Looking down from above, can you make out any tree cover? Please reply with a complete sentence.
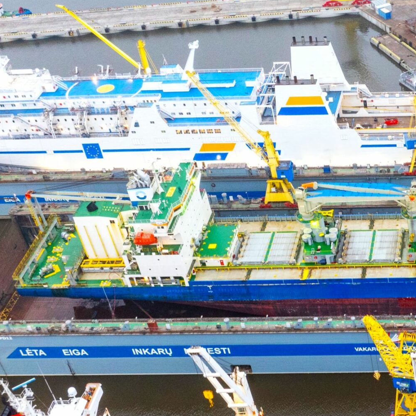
No, the scene doesn't show any tree cover.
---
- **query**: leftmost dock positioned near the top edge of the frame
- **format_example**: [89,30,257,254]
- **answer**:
[0,0,358,41]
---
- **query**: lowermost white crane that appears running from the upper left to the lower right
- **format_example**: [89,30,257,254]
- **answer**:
[184,339,264,416]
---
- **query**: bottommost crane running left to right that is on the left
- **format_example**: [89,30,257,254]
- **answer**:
[25,168,135,232]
